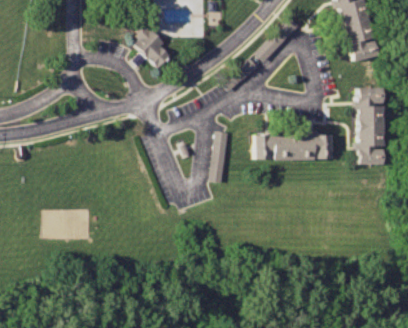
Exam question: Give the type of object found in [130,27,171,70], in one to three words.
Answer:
house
